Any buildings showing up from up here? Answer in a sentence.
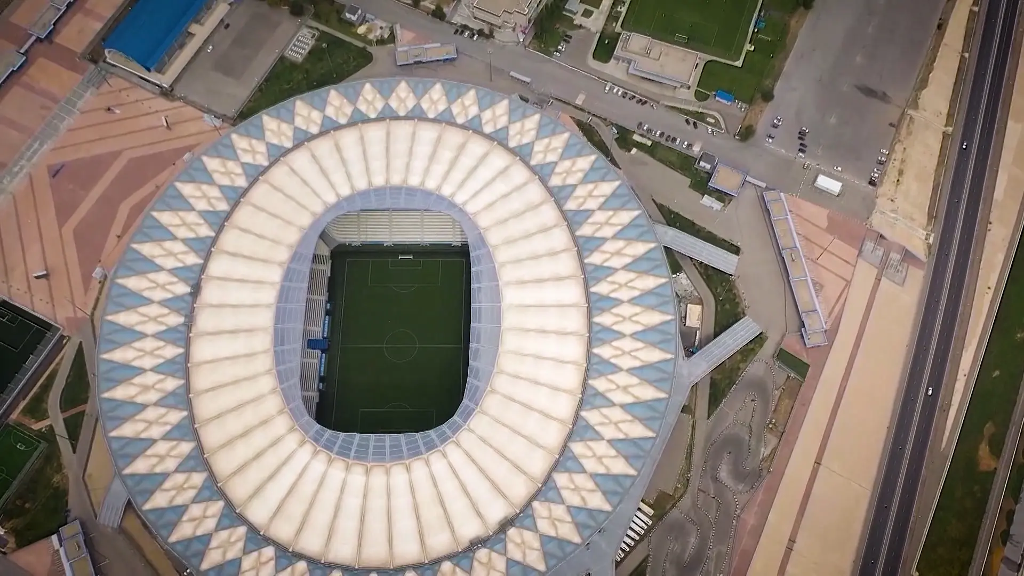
Yes, looking at the shot, I can spot a building.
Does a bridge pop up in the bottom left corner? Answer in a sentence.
Yes, a bridge is visible in the bottom left corner.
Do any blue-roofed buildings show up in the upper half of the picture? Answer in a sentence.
Yes, a blue-roofed building is visible in the upper half of the picture.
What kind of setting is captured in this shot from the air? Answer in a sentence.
It's a sports ground.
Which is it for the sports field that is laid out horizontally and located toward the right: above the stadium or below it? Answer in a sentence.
The position of the sports field that is laid out horizontally and located toward the right is above the stadium.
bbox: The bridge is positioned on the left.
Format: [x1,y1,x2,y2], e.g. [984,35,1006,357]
[96,472,129,528]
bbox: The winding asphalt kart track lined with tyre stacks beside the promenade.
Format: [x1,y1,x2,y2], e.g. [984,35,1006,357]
[647,358,777,576]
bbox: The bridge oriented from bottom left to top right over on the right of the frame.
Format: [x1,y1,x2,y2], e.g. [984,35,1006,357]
[688,316,763,385]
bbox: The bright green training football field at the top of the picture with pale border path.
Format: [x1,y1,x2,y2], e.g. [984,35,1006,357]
[616,0,761,65]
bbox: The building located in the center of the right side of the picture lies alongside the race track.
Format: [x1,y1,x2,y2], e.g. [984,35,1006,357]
[761,190,828,351]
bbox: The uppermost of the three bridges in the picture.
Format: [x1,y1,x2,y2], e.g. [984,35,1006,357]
[653,222,740,275]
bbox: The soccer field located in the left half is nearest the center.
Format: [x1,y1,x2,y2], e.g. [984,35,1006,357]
[318,245,474,433]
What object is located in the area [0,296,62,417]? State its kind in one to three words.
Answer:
soccer field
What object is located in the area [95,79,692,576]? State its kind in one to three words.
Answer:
stadium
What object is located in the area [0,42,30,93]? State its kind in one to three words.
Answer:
building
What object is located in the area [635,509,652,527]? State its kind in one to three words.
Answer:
vehicle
